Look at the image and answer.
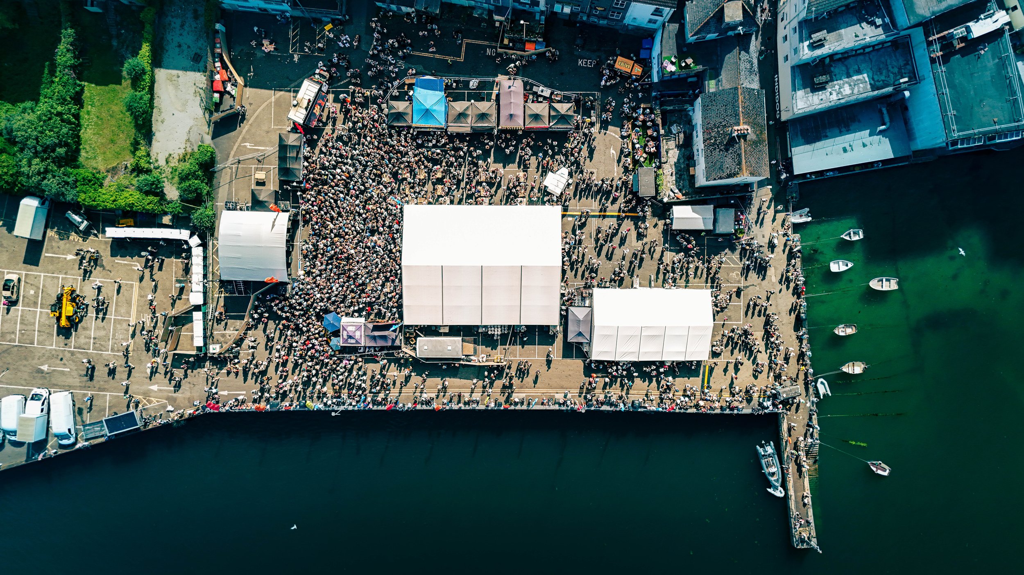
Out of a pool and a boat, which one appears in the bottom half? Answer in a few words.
boat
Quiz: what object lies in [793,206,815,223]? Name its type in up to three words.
boat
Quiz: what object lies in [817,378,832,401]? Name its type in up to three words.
boat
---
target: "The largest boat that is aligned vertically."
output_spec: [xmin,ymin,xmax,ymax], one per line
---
[756,439,782,487]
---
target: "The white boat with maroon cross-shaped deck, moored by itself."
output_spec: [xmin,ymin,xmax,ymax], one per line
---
[869,462,893,478]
